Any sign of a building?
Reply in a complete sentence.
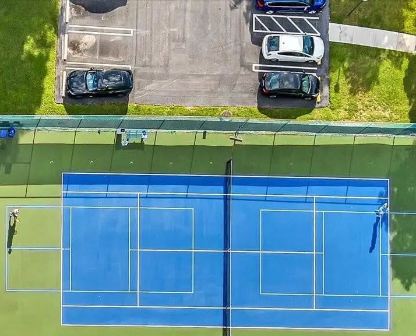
No, I can't see a single building in this photo.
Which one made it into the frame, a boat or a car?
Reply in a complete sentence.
Visible in the photo is a car.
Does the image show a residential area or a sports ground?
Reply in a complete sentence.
This image shows a sports ground.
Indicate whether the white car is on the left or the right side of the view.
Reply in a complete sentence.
The white car is on the right side of the image.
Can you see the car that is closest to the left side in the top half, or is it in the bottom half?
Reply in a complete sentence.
Seen from above, the car that is closest to the left side lies in the top half of the view.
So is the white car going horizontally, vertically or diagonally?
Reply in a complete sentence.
I'd say the white car is aligned horizontally in the picture.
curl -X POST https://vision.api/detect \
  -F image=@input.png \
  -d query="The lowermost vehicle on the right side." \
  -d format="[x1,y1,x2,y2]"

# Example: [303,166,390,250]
[265,69,323,100]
